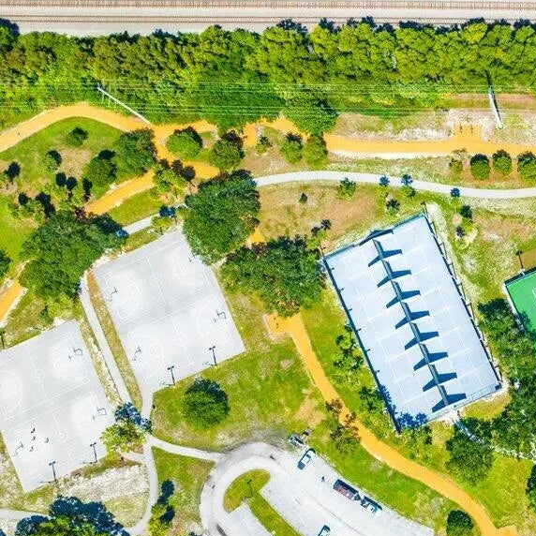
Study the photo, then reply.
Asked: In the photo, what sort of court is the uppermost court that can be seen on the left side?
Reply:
basketball court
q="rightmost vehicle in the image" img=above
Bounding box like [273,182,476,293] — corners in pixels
[362,496,383,514]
